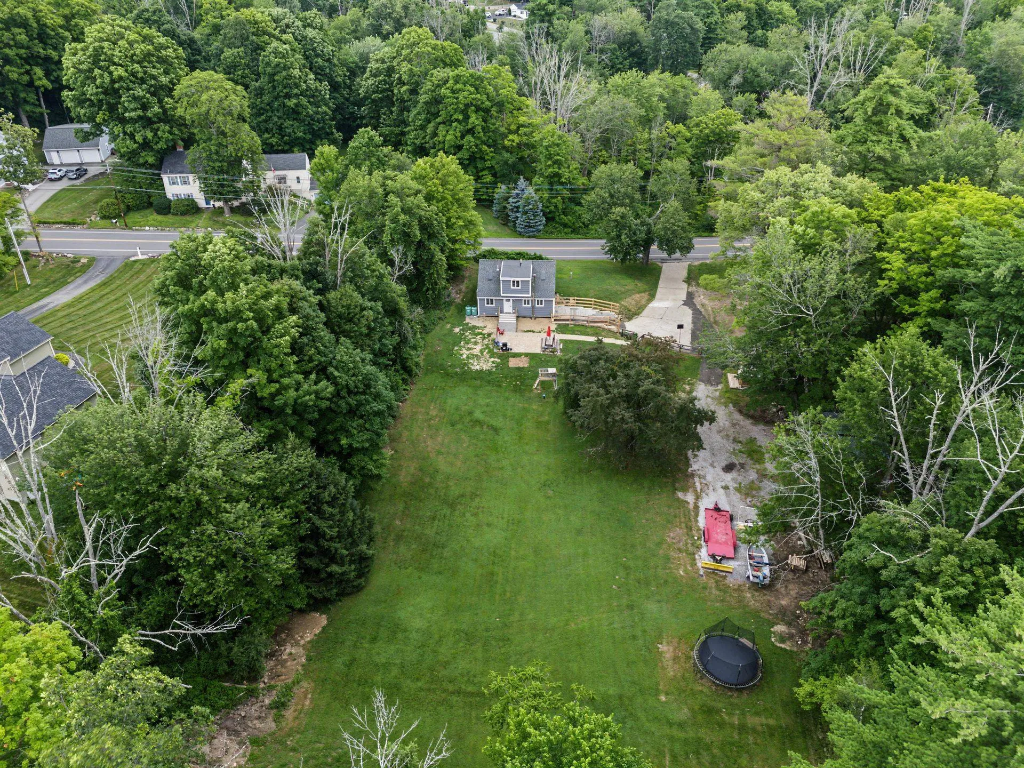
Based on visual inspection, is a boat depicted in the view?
Yes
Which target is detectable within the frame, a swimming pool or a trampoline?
trampoline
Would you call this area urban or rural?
rural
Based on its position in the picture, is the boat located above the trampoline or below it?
above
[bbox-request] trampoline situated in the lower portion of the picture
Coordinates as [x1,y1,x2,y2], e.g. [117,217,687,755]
[693,615,768,698]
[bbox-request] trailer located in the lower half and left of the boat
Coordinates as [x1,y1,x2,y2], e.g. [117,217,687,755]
[702,498,737,560]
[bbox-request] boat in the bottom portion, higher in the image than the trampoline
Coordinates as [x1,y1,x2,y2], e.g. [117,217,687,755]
[744,544,772,590]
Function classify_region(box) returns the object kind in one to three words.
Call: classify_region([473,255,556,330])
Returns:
house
